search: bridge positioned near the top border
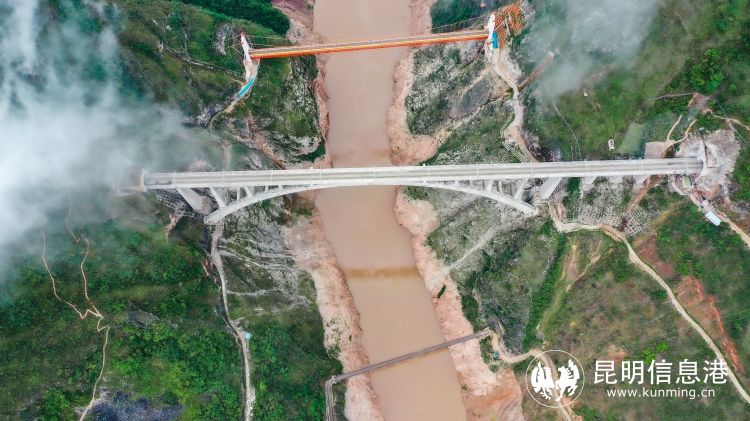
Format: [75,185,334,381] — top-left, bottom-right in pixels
[218,4,514,76]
